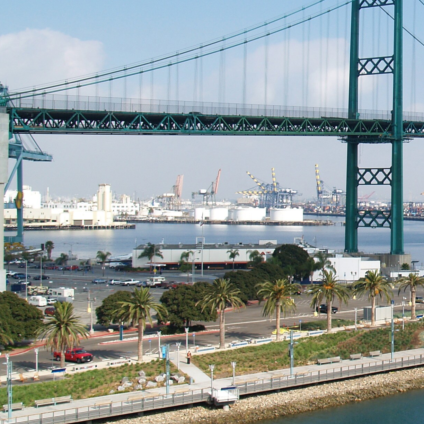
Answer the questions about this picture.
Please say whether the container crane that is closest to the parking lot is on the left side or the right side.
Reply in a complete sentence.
The container crane that is closest to the parking lot sits on the left side.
